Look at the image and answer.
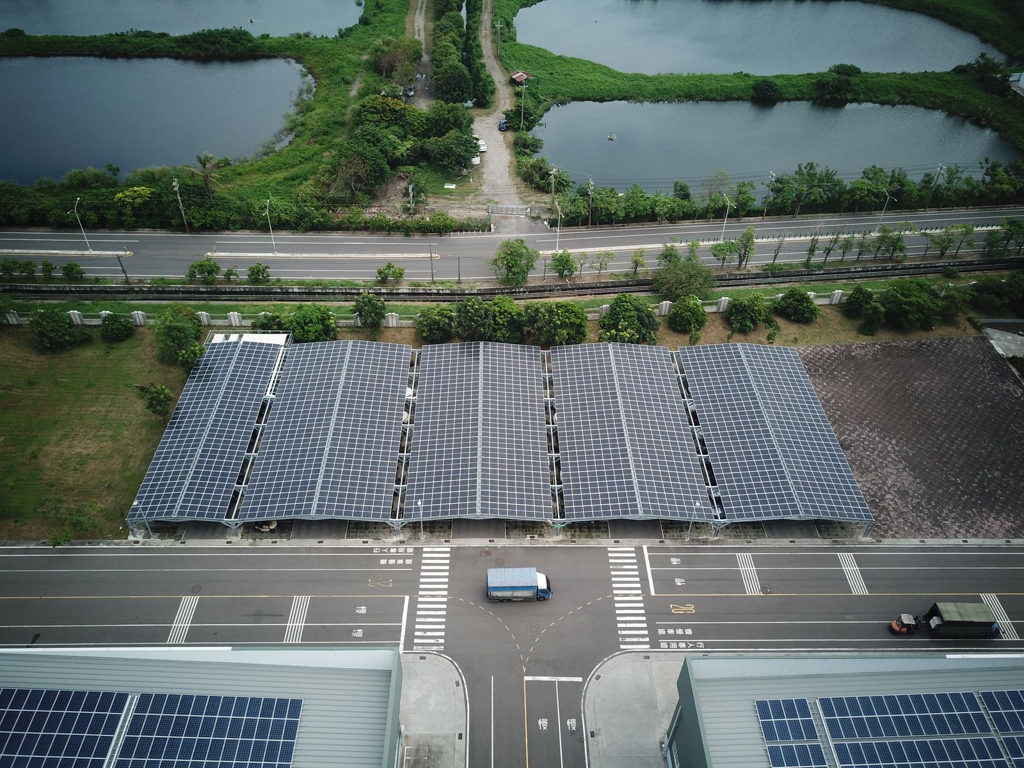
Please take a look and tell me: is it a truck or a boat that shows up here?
truck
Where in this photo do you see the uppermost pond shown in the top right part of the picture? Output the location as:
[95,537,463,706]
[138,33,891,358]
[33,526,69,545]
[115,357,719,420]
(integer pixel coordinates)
[513,0,987,70]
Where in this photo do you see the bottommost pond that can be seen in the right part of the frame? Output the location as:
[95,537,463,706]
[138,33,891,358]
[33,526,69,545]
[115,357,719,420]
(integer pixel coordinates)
[537,100,1024,200]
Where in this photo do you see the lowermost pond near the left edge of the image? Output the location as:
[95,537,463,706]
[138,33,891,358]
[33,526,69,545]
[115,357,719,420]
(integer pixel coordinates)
[0,55,317,189]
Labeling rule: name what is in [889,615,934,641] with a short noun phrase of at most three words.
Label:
work vehicle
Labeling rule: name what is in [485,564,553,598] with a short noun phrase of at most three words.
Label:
truck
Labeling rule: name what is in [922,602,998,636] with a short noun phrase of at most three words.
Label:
trailer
